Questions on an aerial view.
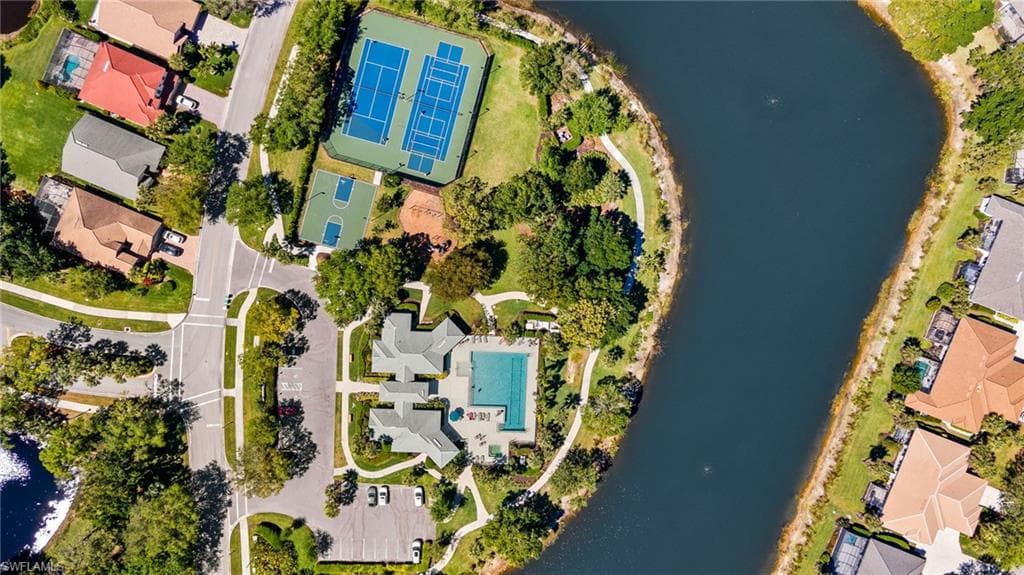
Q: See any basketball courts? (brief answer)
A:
Yes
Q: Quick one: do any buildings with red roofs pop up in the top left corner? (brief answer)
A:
Yes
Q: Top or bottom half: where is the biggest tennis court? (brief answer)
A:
top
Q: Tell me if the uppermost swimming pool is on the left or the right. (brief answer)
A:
left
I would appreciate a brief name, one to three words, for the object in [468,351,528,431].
swimming pool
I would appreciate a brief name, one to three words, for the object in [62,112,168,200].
house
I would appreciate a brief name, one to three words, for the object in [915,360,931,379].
swimming pool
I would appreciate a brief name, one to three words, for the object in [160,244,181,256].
vehicle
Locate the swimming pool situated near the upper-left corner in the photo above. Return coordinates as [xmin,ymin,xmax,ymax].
[58,54,81,83]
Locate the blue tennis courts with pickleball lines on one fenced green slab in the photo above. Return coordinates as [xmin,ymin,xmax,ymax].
[325,10,489,184]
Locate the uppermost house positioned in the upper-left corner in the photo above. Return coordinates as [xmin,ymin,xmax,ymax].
[94,0,205,60]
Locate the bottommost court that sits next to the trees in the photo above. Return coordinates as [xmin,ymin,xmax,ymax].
[299,170,376,254]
